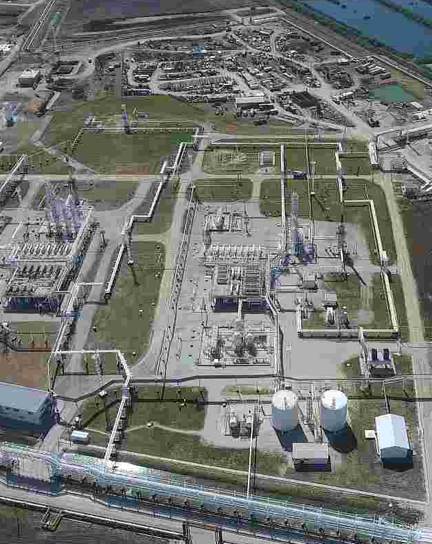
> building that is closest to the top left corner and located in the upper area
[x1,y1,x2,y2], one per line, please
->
[15,67,46,85]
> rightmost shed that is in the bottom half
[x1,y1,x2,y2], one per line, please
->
[375,412,415,464]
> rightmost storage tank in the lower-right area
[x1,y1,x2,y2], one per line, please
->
[319,387,349,434]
